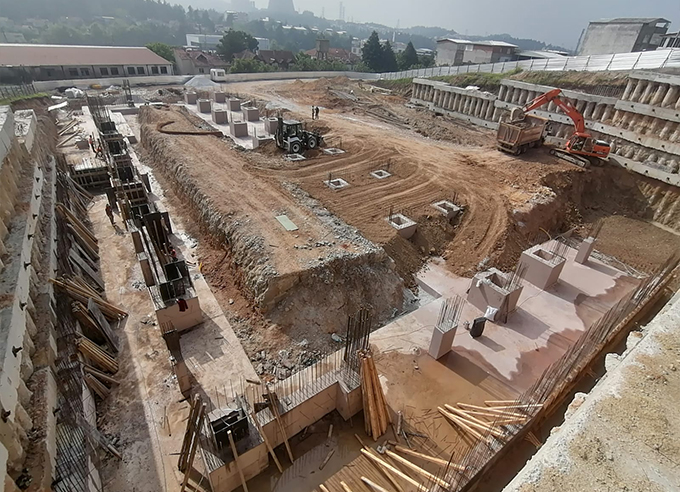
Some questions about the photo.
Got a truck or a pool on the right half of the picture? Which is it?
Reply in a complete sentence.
It is a truck that can be seen on the right half of the picture.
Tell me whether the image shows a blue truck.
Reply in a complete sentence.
No, no blue truck can be seen from above.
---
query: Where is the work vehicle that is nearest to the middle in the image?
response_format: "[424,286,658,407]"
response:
[272,118,329,152]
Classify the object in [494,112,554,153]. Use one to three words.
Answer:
truck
